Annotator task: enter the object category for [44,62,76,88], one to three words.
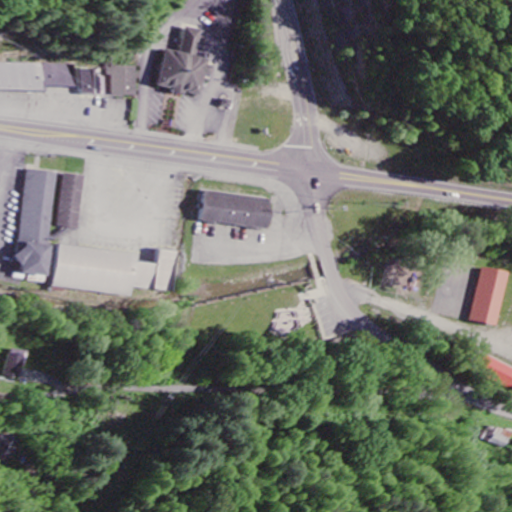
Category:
building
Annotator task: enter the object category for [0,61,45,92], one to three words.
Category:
building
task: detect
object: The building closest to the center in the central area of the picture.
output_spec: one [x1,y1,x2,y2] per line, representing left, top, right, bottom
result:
[198,191,271,229]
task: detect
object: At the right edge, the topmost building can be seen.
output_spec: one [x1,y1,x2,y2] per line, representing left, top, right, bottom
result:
[468,268,510,325]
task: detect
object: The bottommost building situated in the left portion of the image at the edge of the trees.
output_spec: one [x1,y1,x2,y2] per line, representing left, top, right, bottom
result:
[2,351,27,380]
